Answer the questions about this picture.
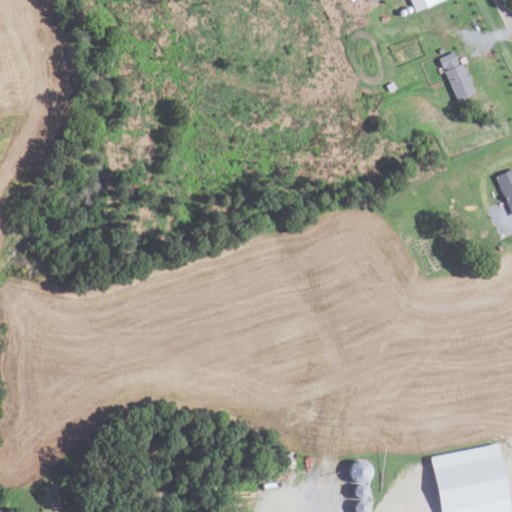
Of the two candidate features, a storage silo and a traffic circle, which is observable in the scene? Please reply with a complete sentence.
Of the two, only a storage silo appears.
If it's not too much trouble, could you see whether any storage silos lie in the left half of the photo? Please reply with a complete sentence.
No, there is no storage silo in the left half of the photo.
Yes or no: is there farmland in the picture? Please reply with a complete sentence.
Yes, farmland shows up in the scene.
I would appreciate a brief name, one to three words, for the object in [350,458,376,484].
silo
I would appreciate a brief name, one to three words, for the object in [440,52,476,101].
house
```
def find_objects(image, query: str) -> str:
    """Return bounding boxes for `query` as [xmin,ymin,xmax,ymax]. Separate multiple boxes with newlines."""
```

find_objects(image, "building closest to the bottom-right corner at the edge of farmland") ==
[432,442,512,512]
